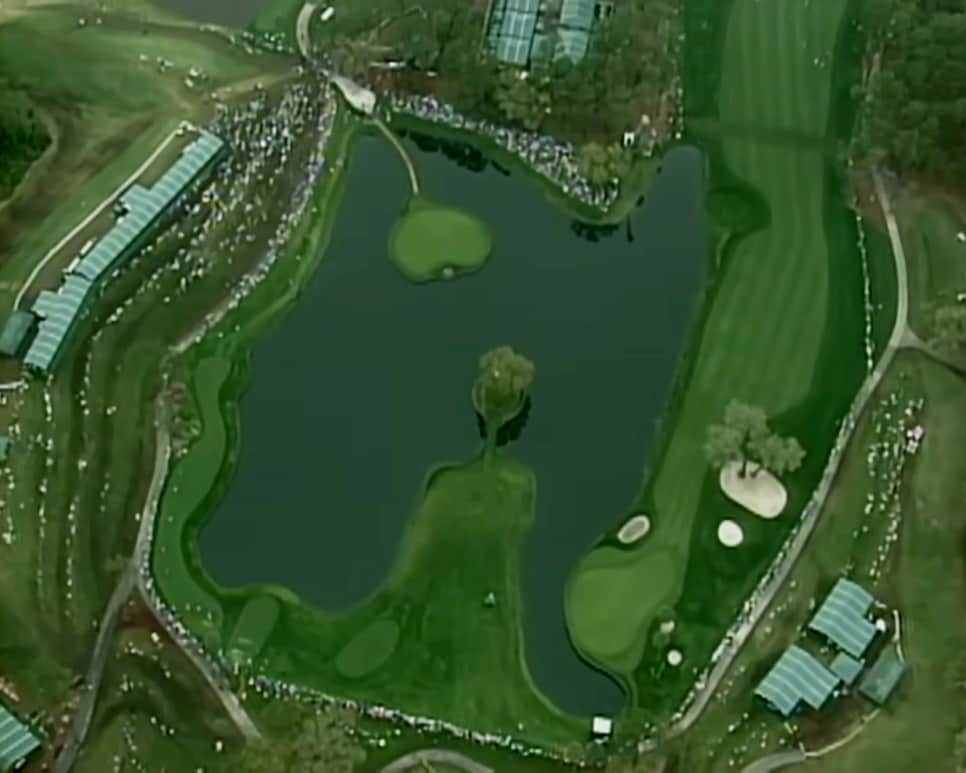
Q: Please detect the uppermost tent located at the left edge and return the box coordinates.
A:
[0,311,36,363]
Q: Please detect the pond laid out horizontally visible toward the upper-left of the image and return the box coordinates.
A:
[152,0,268,28]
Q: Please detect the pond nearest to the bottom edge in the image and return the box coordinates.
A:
[199,131,710,720]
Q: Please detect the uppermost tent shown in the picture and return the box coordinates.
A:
[530,35,547,69]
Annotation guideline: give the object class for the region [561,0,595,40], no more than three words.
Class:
building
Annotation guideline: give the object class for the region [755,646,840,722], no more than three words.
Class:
building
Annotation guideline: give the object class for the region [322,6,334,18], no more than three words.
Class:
vehicle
